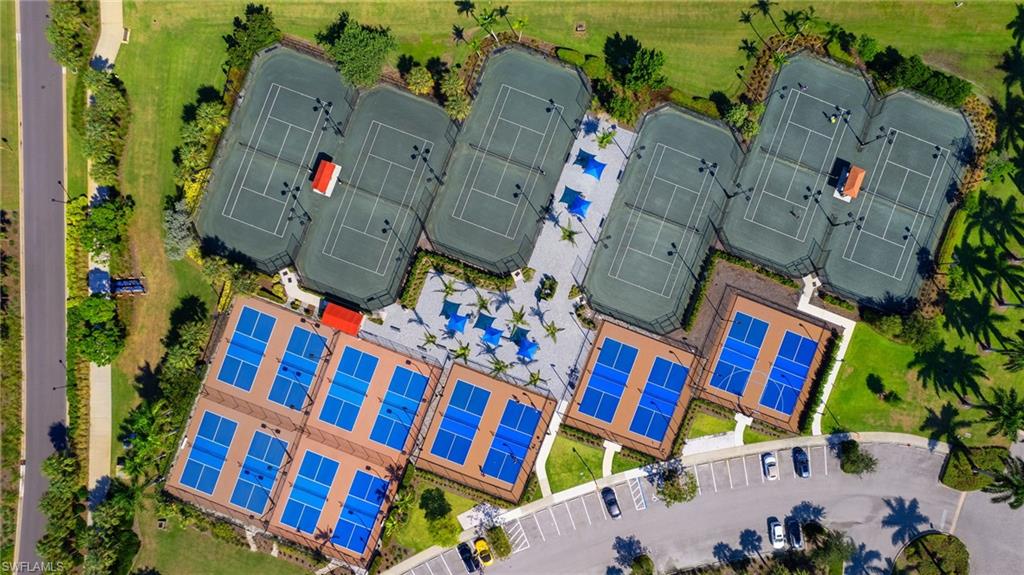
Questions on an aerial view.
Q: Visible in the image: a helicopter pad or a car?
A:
car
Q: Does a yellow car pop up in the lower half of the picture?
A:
Yes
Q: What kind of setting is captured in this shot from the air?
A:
sports ground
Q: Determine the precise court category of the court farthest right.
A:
tennis court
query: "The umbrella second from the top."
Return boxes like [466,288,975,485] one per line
[569,194,592,217]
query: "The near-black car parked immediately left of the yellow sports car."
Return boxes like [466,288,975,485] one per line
[457,543,474,574]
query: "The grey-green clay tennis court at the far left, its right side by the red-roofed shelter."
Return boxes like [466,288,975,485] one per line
[195,45,356,273]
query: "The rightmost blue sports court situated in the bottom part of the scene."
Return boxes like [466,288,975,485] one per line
[759,330,818,416]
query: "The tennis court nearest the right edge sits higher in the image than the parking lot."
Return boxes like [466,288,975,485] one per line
[819,87,973,307]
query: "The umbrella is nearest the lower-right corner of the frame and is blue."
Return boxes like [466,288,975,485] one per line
[517,337,540,360]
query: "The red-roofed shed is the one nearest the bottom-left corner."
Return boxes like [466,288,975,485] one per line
[322,302,370,335]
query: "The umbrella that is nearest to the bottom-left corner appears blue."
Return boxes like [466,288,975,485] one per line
[447,311,469,334]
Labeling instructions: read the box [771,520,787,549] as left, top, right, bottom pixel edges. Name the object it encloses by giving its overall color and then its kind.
white car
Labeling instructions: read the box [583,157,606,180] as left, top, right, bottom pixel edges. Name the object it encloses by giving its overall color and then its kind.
blue umbrella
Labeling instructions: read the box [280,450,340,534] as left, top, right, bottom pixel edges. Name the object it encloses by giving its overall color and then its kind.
blue sports court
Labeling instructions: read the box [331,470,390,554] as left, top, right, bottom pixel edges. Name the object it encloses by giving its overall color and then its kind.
blue sports court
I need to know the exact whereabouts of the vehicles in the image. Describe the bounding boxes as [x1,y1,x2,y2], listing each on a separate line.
[476,539,493,567]
[604,489,621,520]
[795,449,812,479]
[771,520,787,549]
[789,518,807,552]
[457,543,474,574]
[765,455,780,482]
